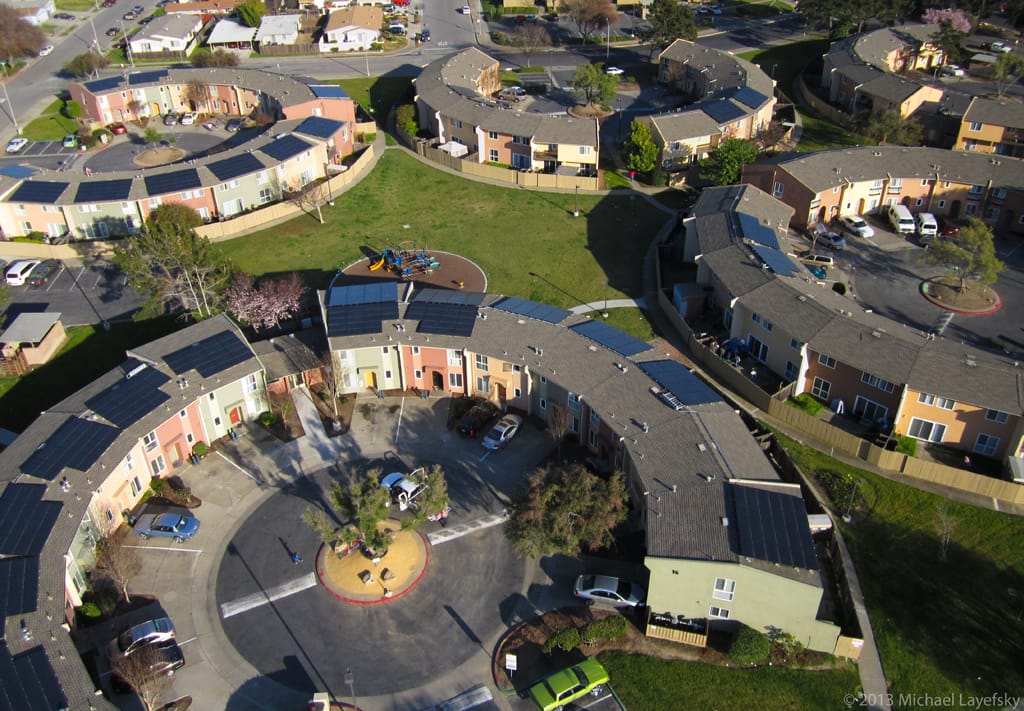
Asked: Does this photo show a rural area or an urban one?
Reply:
urban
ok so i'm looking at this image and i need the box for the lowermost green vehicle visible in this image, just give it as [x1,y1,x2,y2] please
[528,660,615,711]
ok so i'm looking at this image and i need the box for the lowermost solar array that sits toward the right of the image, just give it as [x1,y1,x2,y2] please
[732,478,819,571]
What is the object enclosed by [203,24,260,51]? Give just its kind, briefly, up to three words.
house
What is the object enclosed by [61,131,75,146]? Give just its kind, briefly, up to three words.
car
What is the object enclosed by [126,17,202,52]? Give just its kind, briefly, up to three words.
house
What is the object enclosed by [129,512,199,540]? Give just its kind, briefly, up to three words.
car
